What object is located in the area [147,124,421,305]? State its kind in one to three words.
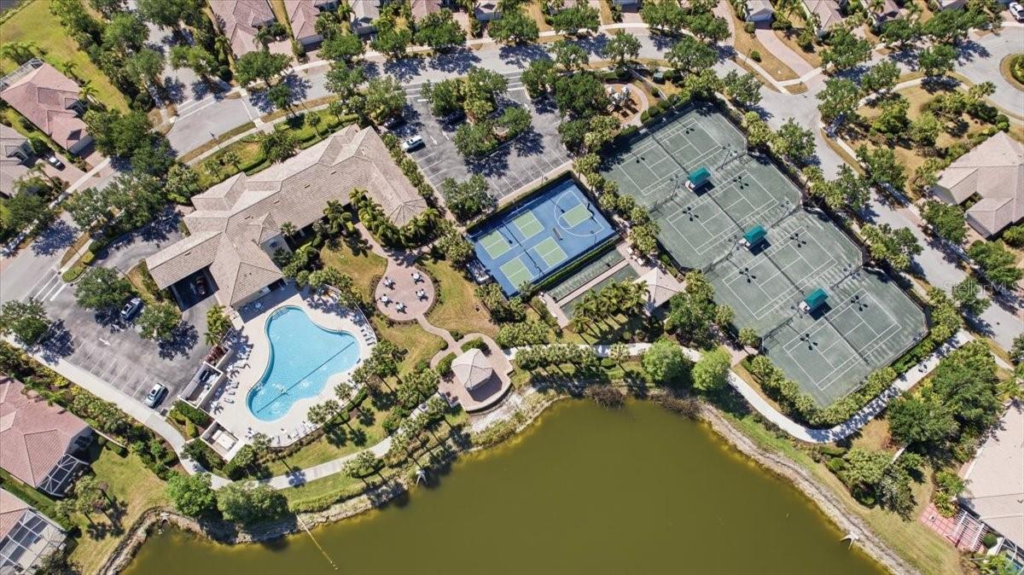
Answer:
building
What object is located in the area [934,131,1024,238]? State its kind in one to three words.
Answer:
house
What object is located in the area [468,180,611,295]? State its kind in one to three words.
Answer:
basketball court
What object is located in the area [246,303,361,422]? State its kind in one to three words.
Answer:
swimming pool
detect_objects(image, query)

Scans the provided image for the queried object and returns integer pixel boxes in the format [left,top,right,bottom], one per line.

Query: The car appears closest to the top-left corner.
[47,152,64,167]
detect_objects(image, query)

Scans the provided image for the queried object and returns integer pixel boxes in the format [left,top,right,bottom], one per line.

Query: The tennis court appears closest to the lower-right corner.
[762,266,927,407]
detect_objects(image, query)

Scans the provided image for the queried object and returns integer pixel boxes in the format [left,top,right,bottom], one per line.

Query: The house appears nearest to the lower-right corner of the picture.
[957,405,1024,544]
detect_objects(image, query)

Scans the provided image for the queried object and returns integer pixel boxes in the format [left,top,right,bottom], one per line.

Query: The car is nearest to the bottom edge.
[146,382,167,405]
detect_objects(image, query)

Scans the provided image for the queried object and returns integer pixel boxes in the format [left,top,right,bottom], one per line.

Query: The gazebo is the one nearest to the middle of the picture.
[451,348,492,392]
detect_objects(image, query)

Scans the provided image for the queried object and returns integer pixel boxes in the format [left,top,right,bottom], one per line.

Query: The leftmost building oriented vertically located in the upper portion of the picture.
[0,107,42,198]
